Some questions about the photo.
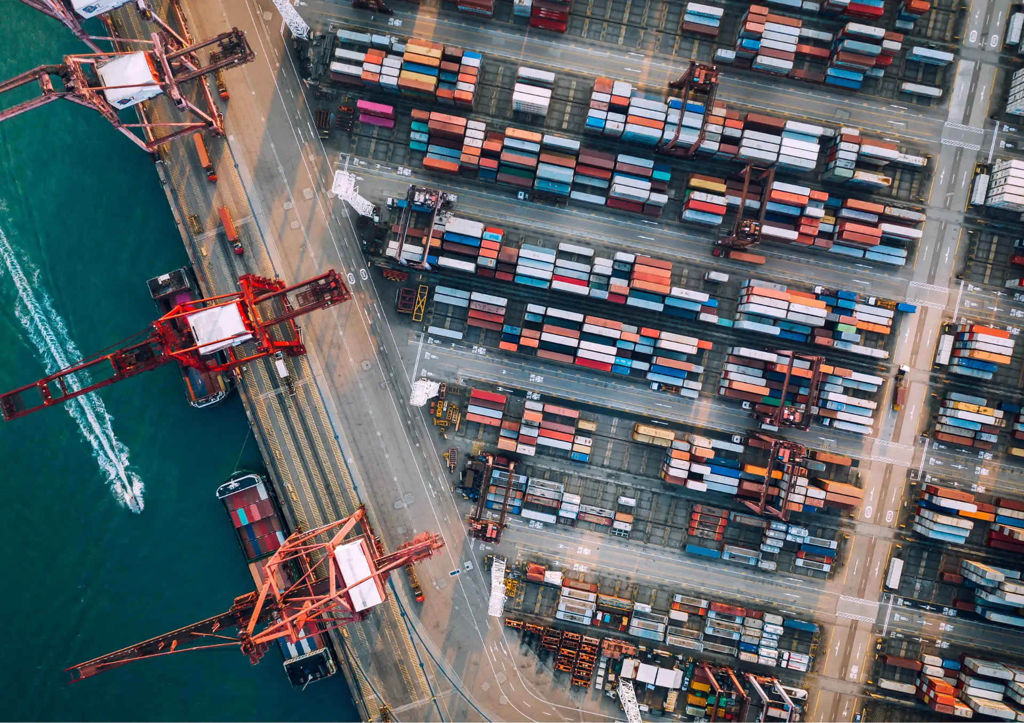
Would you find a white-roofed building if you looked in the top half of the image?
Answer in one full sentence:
No, no white-roofed building can be made out in the top half of the image.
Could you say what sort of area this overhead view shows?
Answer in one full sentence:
This image shows a port.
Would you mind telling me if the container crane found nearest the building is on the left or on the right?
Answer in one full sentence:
The container crane found nearest the building sits on the right side.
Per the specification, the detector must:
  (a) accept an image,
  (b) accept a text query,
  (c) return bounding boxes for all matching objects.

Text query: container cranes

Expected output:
[61,499,445,685]
[0,0,192,63]
[466,456,521,551]
[0,269,355,424]
[711,163,778,251]
[701,667,750,723]
[740,674,797,723]
[399,180,450,270]
[735,433,806,521]
[0,26,257,160]
[667,50,719,151]
[751,351,825,439]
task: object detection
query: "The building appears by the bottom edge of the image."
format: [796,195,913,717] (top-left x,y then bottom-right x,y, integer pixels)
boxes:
[618,656,684,689]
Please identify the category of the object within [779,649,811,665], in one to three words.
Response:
vehicle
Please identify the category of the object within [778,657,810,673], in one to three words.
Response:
vehicle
